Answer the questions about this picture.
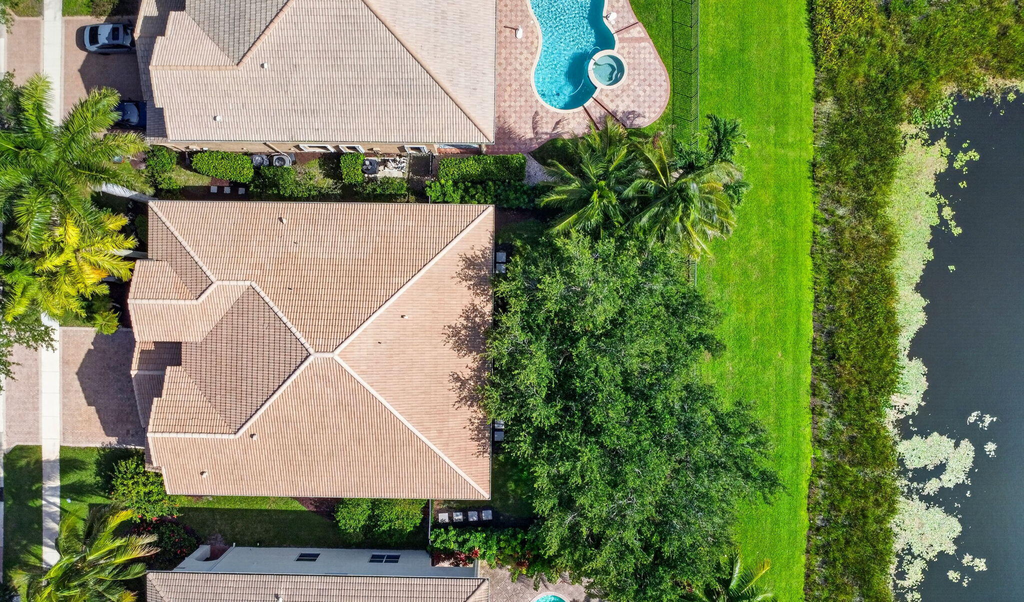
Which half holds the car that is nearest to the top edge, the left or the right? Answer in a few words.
left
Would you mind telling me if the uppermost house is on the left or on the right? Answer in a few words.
left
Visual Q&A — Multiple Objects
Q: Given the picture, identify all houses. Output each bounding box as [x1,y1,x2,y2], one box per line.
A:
[131,0,498,155]
[123,200,496,501]
[144,545,493,602]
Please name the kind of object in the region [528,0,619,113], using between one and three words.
swimming pool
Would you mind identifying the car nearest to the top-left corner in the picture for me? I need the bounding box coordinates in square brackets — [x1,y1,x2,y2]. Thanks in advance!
[82,21,139,60]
